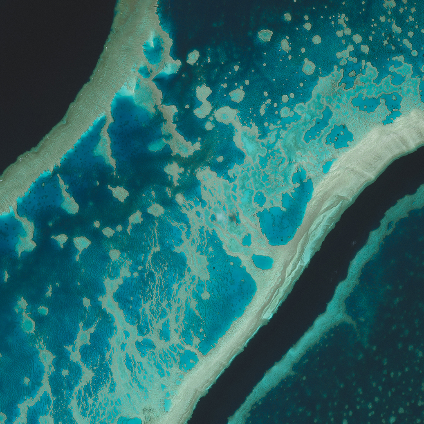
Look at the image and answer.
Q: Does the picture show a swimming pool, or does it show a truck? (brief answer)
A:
swimming pool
